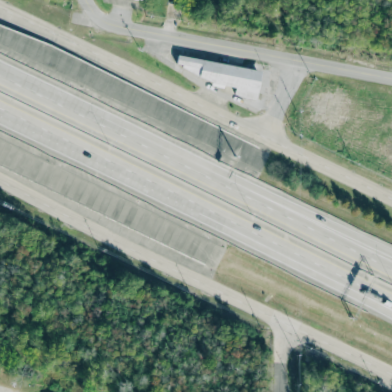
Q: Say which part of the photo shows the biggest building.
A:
top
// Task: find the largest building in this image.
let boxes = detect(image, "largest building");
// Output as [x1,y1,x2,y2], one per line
[178,56,262,98]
